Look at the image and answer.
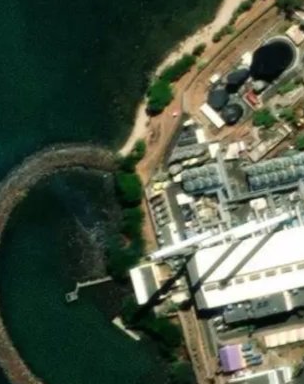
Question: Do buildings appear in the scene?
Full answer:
Yes, a building appears in the view.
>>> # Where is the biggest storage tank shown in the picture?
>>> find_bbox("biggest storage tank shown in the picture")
[252,39,295,77]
